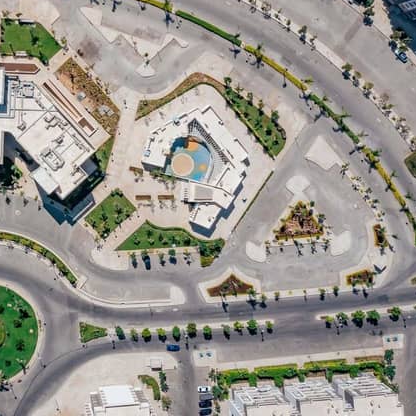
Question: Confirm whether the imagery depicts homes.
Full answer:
Yes, you can see a home in this photo.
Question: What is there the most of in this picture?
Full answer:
Most of the picture is covered by paved ground.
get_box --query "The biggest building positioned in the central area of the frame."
[139,106,249,228]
